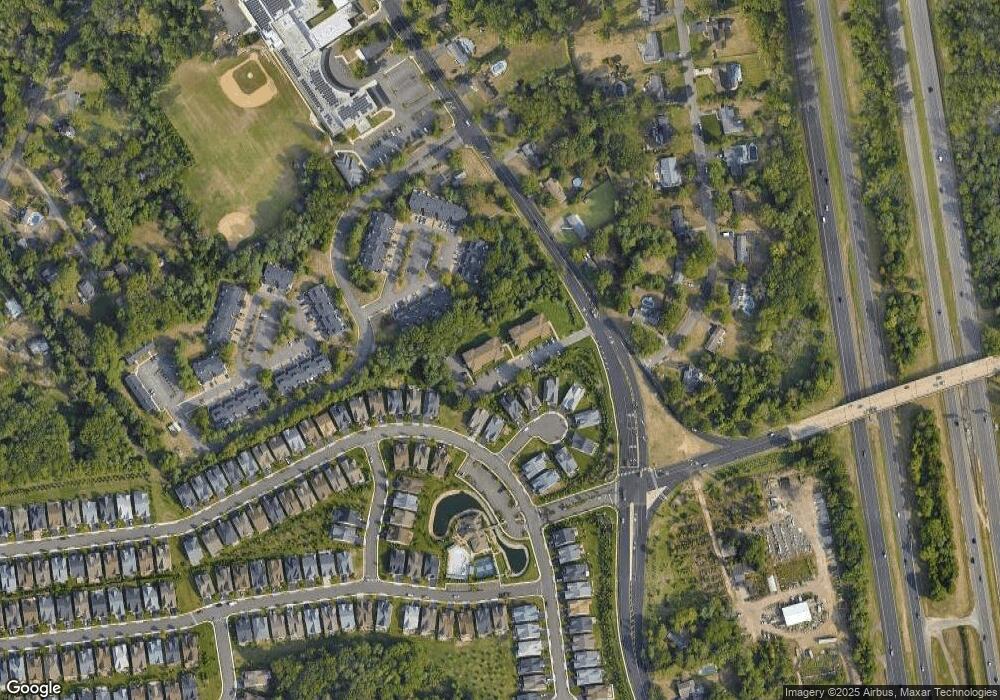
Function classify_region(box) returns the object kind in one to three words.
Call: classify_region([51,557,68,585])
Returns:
house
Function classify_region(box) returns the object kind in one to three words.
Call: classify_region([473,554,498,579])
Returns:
tennis court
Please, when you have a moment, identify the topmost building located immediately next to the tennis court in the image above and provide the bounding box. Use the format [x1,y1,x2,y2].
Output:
[454,509,493,556]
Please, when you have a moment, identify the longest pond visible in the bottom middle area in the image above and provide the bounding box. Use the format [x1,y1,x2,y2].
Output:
[434,492,528,574]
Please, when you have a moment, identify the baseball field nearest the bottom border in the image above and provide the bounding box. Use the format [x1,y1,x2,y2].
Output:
[218,212,255,251]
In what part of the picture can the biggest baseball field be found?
top left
